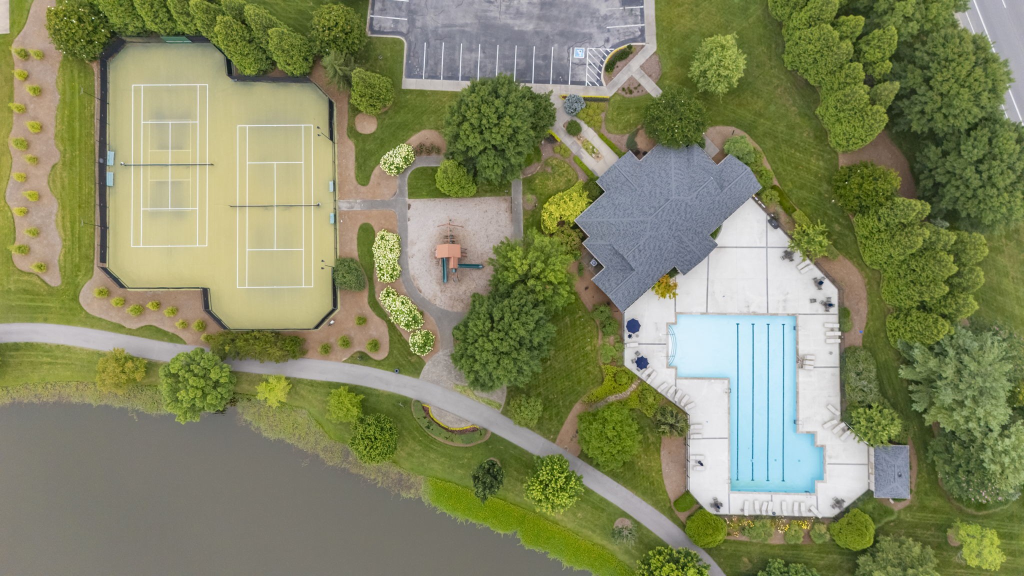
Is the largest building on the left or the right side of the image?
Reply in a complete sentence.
It is on the right.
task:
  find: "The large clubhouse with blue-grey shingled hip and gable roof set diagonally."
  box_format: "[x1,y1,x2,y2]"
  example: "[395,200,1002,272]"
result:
[573,127,762,313]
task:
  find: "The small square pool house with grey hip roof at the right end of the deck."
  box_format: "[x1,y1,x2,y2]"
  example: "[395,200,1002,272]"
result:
[866,444,910,499]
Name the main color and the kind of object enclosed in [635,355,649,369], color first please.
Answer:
blue umbrella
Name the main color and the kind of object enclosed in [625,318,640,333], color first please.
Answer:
blue umbrella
